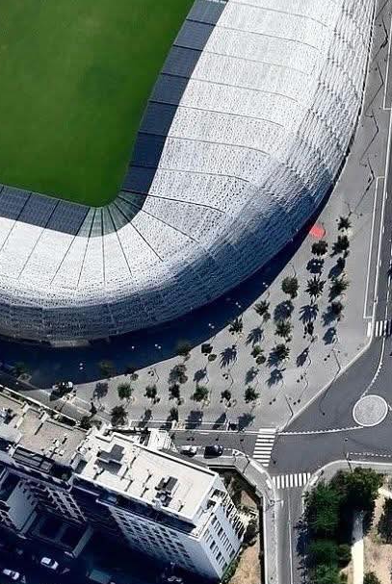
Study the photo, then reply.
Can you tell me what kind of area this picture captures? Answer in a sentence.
This image shows a sports ground.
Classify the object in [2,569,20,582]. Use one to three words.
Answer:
vehicle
